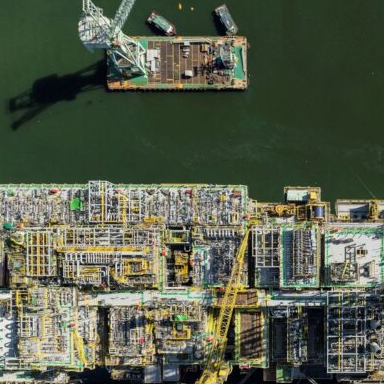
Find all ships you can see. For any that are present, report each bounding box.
[0,181,384,384]
[106,37,247,93]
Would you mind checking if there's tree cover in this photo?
No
